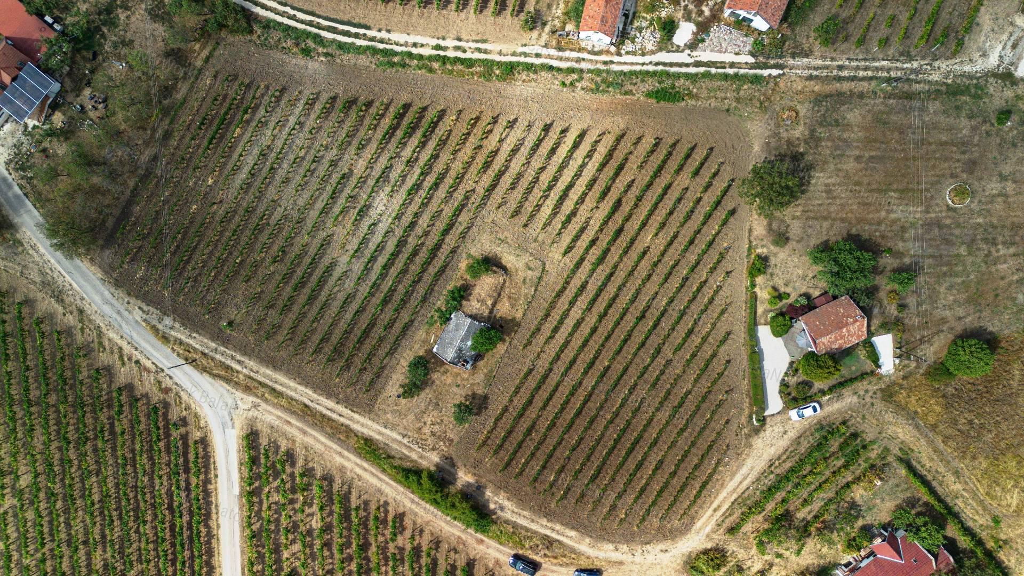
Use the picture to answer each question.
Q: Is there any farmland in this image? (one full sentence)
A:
Yes, farmland shows up in the scene.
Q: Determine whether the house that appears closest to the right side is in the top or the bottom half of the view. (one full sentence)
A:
It is in the bottom half that the house that appears closest to the right side appears.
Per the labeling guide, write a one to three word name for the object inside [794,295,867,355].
house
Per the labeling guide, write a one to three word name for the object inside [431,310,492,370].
shed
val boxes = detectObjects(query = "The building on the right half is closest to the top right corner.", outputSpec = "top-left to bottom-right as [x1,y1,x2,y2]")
[722,0,789,32]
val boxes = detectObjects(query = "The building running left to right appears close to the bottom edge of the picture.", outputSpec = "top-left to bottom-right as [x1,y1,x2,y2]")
[846,527,957,576]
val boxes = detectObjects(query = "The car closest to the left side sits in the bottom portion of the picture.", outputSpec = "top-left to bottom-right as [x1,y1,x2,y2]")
[506,552,540,576]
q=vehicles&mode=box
[506,552,540,576]
[788,401,822,420]
[571,567,603,576]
